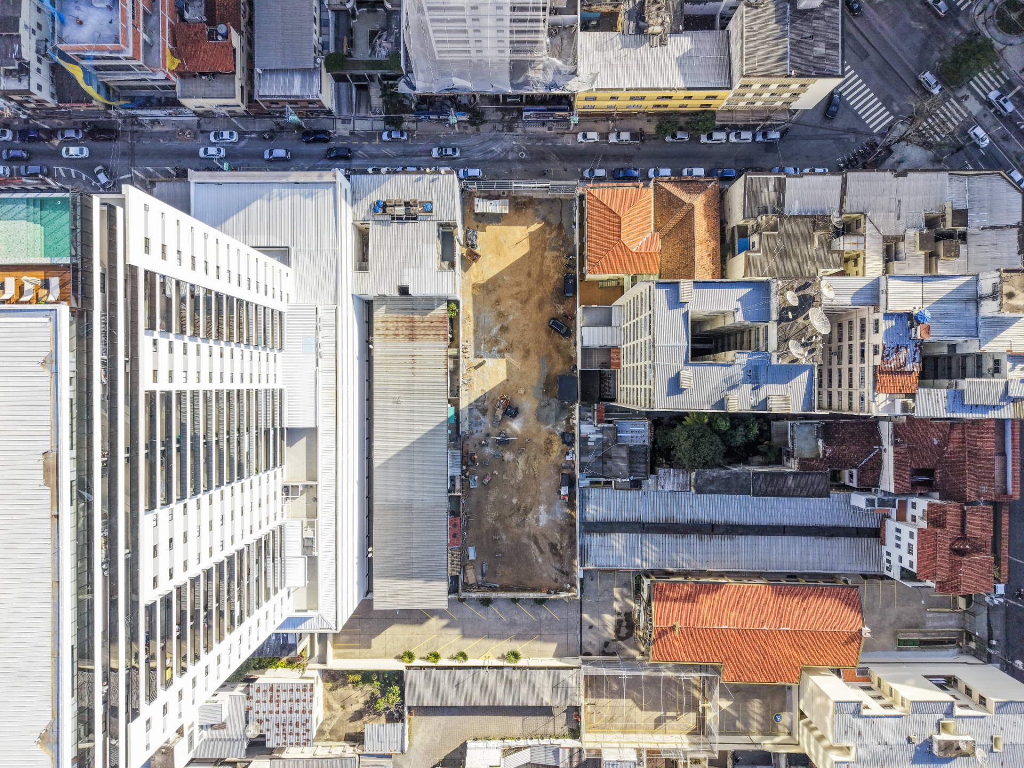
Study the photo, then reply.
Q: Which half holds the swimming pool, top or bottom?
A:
top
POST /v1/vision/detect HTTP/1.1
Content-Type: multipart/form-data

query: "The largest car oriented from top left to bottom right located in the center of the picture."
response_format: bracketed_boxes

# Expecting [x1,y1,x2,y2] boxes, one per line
[546,317,574,340]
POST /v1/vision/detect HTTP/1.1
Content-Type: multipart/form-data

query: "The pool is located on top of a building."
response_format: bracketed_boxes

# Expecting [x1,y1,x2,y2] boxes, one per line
[0,194,63,257]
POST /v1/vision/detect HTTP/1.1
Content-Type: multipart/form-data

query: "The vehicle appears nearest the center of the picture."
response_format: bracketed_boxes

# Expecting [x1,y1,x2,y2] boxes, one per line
[488,391,515,430]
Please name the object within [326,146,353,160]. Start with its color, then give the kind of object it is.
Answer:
black car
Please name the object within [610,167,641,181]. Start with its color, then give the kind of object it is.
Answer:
blue car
